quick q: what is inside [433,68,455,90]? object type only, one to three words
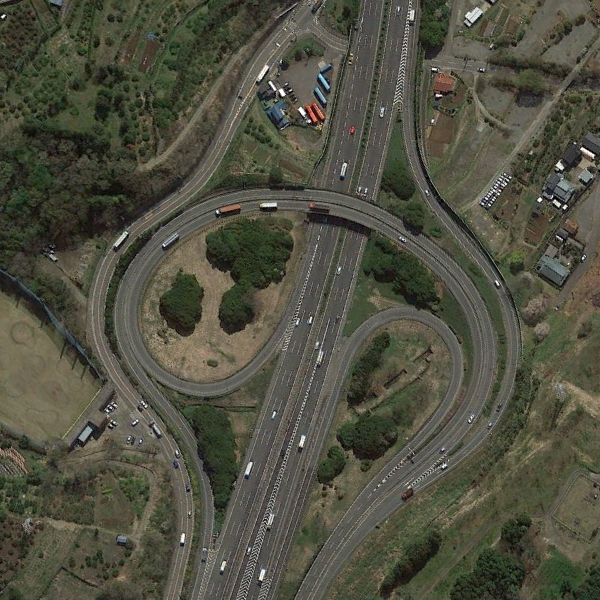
house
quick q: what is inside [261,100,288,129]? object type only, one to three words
house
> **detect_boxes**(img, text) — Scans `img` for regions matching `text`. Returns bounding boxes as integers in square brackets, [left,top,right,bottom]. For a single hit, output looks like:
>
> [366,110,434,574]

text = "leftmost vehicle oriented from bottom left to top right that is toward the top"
[112,231,129,249]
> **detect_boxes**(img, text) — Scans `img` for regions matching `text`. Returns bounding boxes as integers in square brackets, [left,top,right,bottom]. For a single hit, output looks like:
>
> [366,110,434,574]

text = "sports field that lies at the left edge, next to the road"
[0,276,103,444]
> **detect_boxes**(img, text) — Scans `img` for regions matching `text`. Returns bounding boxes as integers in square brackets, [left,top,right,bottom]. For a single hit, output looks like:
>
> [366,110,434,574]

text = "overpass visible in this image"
[303,188,386,231]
